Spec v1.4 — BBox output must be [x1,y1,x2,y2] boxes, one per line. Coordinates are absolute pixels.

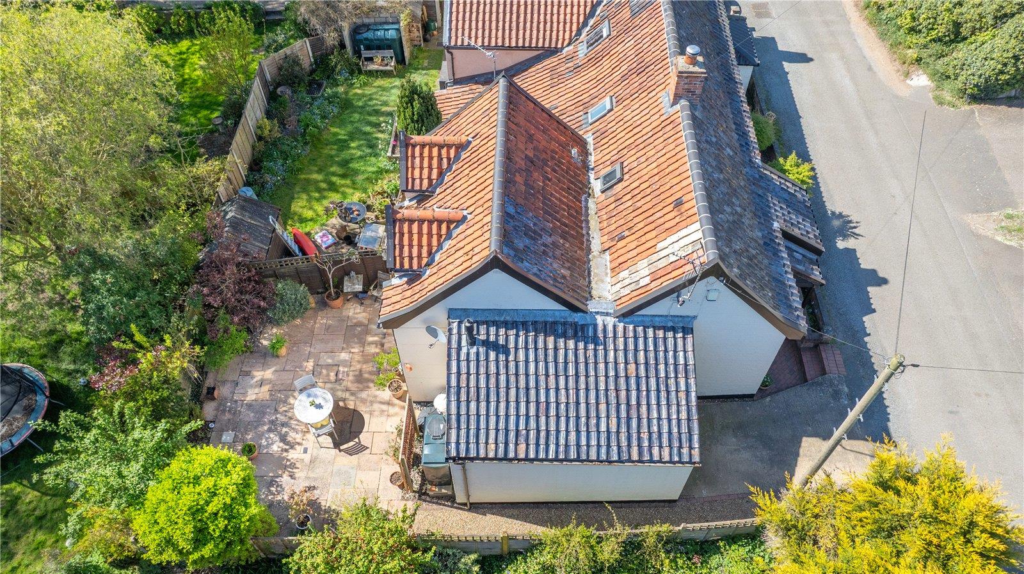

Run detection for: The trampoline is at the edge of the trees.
[0,355,68,473]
